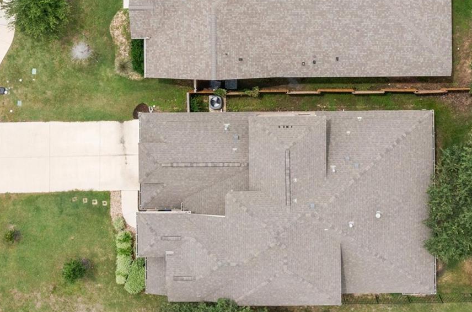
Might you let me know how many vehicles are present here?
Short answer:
none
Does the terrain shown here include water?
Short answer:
No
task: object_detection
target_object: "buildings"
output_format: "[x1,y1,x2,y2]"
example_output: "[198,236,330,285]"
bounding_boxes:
[130,0,452,79]
[135,109,438,306]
